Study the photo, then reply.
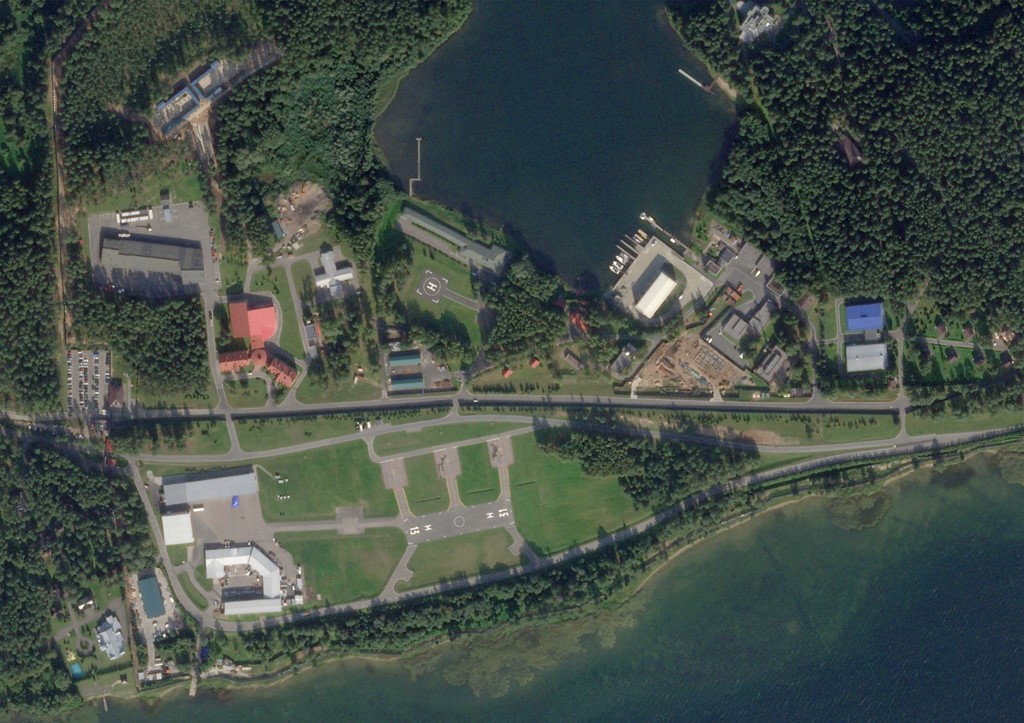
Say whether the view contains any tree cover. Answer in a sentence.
Yes, there's tree cover in this view.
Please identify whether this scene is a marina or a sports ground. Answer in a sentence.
The picture captures a marina.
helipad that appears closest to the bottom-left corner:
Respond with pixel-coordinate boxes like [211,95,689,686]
[381,458,415,519]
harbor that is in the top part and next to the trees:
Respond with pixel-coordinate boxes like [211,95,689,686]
[613,236,713,329]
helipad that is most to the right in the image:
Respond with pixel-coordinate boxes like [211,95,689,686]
[487,436,514,501]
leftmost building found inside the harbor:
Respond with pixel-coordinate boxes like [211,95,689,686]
[635,272,678,319]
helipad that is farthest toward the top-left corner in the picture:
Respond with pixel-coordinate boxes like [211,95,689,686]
[416,269,484,311]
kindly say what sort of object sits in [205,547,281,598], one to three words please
building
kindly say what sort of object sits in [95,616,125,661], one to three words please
house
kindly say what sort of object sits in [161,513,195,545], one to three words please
hangar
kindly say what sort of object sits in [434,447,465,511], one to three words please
helipad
